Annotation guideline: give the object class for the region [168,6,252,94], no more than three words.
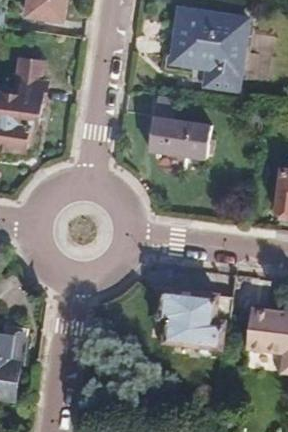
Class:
house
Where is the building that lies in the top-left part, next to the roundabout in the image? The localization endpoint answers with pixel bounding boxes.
[0,58,49,155]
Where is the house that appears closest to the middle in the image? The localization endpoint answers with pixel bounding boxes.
[148,114,215,163]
